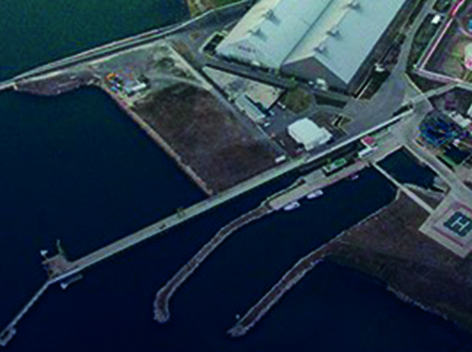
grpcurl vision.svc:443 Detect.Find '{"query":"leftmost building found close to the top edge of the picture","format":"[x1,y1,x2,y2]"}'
[215,0,331,73]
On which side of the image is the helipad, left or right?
right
